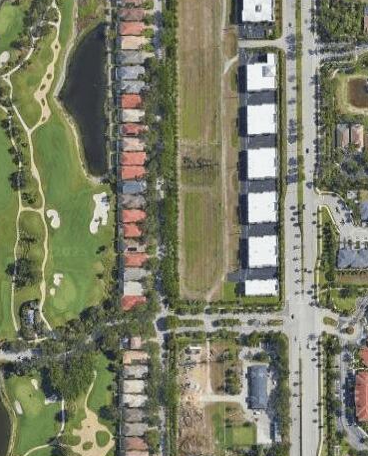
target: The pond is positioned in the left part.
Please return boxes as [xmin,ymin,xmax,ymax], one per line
[61,23,106,178]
